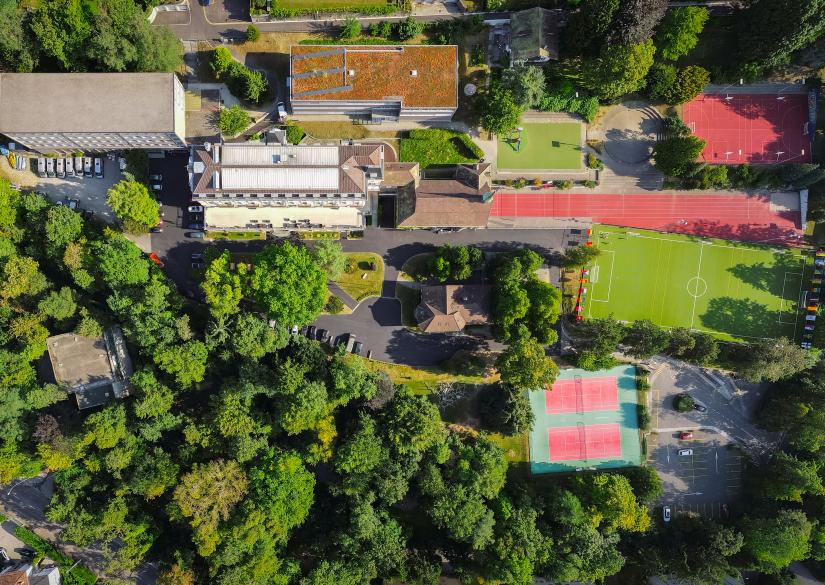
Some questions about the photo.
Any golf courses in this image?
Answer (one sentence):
No, this view has no golf course in it.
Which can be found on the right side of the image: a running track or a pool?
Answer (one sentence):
What appears on the right side of the image is a running track.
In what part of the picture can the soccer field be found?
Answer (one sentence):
Look in the right portion of the view to spot the soccer field.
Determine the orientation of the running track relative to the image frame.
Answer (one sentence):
The running track runs horizontally in the image.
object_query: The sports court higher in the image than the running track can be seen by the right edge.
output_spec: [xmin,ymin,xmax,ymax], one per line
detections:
[684,93,812,165]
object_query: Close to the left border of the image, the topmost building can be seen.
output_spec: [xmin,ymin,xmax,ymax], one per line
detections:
[0,72,189,148]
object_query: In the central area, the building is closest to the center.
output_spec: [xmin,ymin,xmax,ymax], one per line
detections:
[414,284,491,332]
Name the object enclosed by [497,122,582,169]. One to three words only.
sports court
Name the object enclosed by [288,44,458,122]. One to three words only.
building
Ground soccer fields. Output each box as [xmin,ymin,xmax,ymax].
[579,222,812,347]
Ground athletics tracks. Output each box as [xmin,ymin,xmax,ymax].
[488,192,803,248]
